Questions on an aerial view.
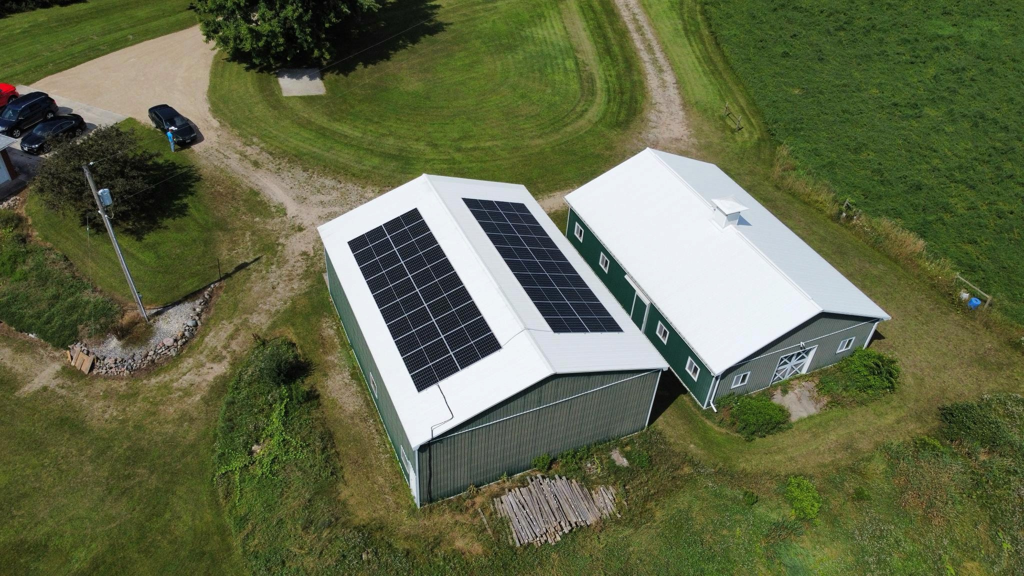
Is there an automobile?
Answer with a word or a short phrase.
Yes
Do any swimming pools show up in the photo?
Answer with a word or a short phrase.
No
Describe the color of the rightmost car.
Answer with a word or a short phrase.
black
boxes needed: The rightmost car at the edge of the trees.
[142,105,194,145]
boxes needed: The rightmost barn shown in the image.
[563,145,890,414]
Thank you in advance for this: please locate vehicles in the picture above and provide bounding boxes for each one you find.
[16,111,89,153]
[142,105,194,145]
[0,76,19,104]
[0,87,57,137]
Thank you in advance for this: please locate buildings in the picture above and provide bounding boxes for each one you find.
[563,145,890,414]
[0,133,22,186]
[318,172,668,510]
